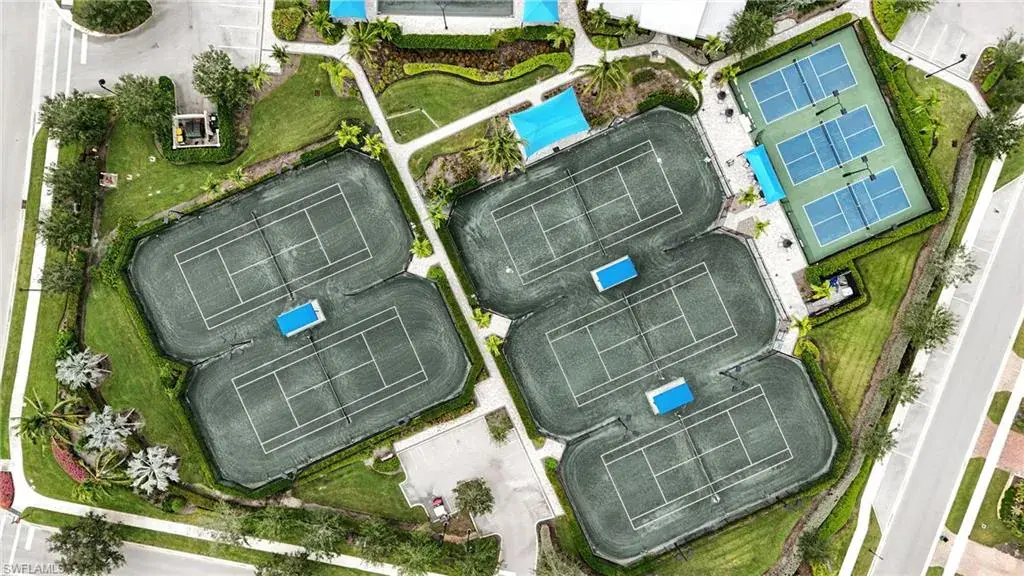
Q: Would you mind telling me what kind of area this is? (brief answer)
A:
sports ground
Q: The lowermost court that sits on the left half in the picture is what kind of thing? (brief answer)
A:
tennis court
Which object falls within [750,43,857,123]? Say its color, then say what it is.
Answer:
blue sports court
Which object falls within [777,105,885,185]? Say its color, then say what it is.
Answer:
blue sports court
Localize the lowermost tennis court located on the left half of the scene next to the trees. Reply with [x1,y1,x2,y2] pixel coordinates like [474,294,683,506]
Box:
[195,271,469,487]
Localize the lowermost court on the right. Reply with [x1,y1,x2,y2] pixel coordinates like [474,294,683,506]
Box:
[560,352,833,562]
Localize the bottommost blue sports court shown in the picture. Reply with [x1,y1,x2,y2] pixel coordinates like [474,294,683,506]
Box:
[803,166,912,246]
